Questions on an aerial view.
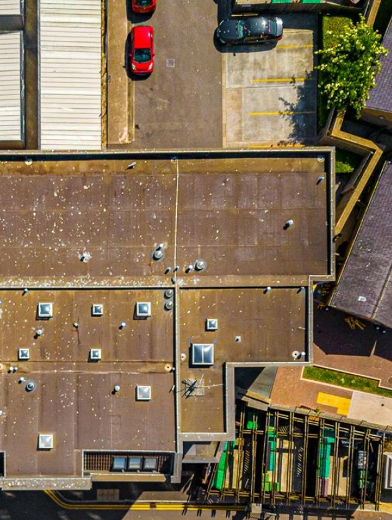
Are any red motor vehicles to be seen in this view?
Yes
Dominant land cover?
buildings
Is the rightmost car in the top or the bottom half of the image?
top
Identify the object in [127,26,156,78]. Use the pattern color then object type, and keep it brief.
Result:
red car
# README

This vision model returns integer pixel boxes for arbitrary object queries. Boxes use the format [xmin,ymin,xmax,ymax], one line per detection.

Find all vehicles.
[213,14,282,48]
[131,0,156,15]
[127,26,156,78]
